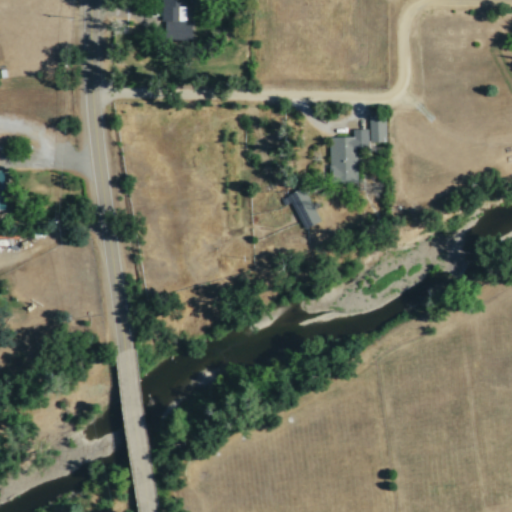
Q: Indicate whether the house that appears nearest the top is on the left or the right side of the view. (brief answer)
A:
left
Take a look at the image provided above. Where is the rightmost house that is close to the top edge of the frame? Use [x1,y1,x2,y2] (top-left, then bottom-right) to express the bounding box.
[164,0,194,39]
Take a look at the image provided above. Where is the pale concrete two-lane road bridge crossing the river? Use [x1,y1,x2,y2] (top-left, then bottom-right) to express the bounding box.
[116,350,157,512]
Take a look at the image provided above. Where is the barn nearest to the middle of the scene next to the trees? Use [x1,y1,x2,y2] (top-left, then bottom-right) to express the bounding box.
[284,188,322,229]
